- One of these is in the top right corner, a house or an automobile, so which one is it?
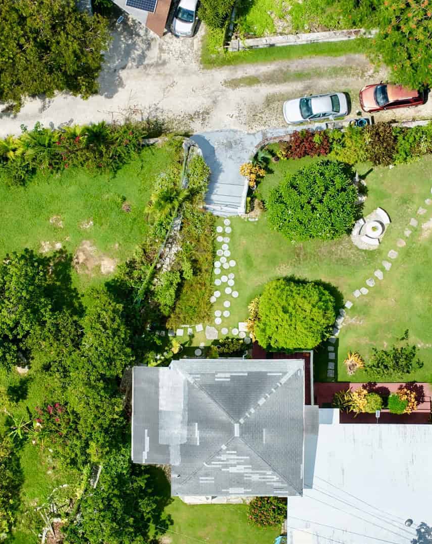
automobile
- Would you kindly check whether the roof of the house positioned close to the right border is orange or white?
white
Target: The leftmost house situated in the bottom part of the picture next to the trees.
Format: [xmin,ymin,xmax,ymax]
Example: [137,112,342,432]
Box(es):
[132,358,320,496]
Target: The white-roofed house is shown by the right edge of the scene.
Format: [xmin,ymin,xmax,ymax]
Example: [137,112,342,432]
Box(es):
[286,408,432,544]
